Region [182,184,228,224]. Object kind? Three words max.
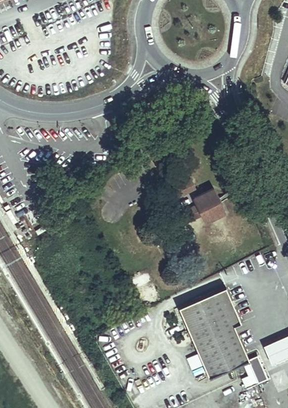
house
